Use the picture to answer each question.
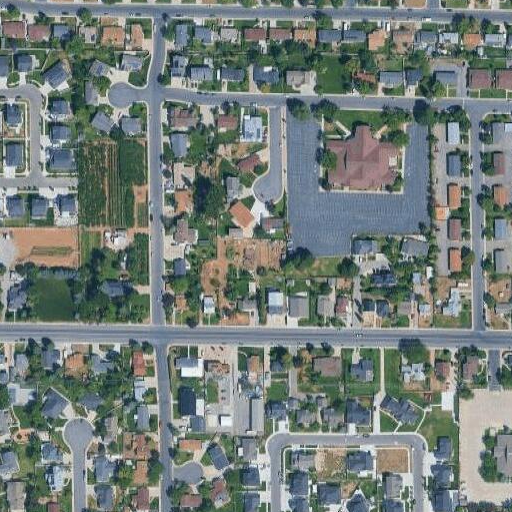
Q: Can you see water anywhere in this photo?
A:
No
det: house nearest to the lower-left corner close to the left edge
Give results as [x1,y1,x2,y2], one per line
[7,482,25,511]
